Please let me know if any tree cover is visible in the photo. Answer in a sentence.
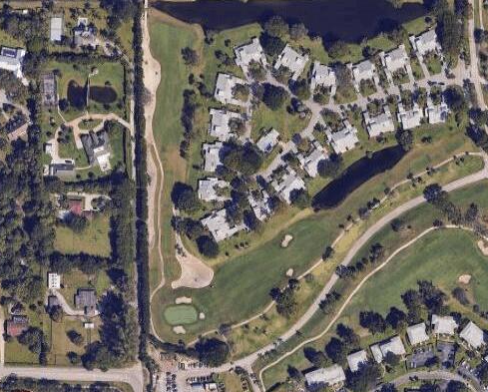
Yes, tree cover can be seen from above here.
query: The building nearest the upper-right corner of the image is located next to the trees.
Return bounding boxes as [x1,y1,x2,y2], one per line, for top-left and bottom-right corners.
[408,24,441,60]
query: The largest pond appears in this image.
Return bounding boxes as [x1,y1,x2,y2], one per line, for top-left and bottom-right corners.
[312,145,407,209]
